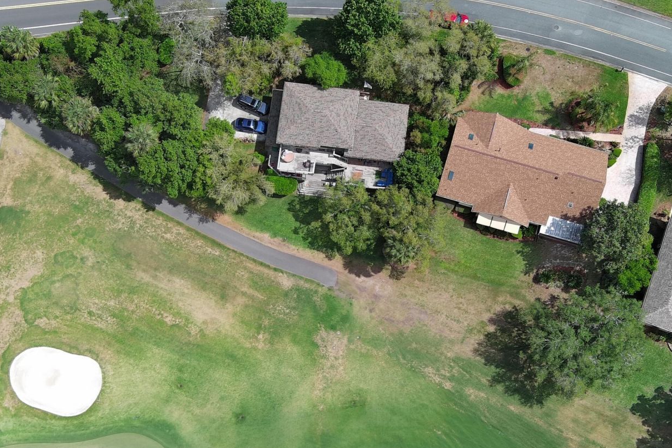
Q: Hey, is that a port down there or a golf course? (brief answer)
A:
golf course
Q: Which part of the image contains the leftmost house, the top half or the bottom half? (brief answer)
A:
top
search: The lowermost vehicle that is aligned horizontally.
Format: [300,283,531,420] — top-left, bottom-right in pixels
[235,118,267,134]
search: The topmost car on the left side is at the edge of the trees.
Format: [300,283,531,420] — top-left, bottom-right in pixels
[237,94,269,115]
